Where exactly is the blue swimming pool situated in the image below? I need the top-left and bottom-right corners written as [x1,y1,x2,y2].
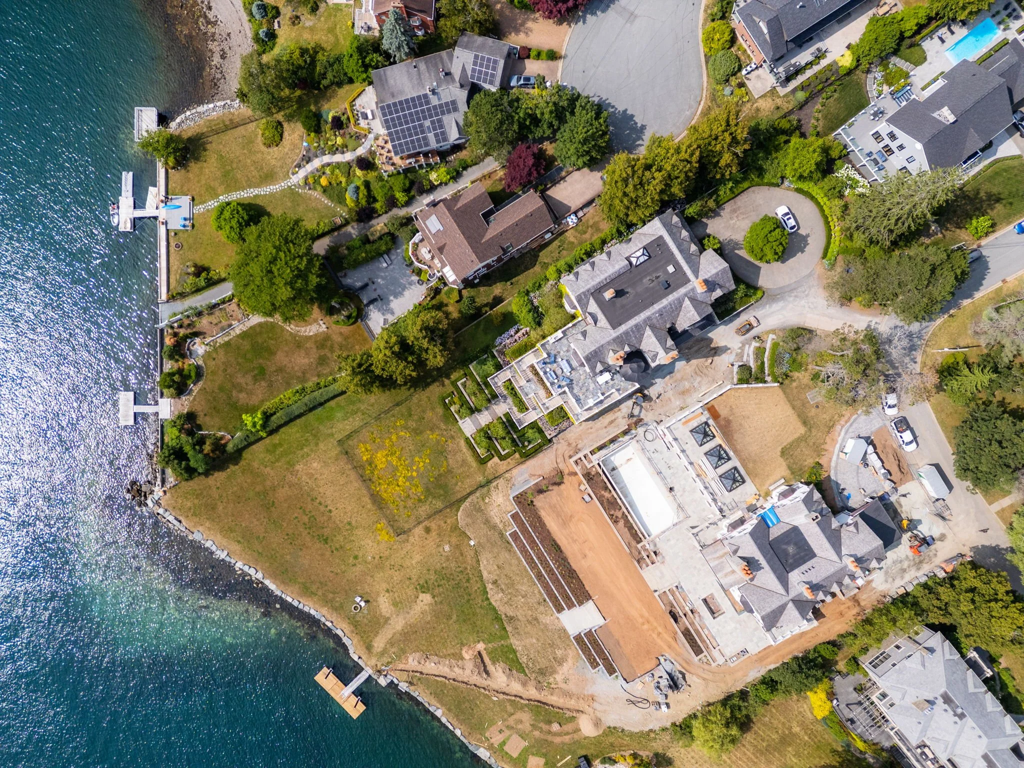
[941,14,1005,67]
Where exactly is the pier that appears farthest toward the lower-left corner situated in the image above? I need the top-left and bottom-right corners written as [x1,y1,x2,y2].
[314,665,370,719]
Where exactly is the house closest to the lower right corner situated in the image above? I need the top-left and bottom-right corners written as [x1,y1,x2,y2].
[849,623,1024,768]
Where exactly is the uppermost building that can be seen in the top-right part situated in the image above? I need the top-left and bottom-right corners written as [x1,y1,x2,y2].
[730,0,860,83]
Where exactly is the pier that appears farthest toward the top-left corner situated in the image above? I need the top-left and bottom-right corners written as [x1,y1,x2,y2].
[131,104,159,141]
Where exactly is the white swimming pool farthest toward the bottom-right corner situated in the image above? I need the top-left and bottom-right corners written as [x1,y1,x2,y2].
[598,441,680,540]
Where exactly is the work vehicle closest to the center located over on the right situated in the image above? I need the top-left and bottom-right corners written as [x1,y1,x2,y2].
[629,388,650,421]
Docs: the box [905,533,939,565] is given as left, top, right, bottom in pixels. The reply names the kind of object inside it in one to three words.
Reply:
work vehicle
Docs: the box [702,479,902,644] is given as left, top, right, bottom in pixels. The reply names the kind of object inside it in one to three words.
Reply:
house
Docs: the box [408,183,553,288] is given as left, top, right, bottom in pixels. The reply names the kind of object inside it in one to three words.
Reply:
house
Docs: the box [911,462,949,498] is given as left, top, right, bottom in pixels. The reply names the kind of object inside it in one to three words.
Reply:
shipping container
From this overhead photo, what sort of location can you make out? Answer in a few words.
residential area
